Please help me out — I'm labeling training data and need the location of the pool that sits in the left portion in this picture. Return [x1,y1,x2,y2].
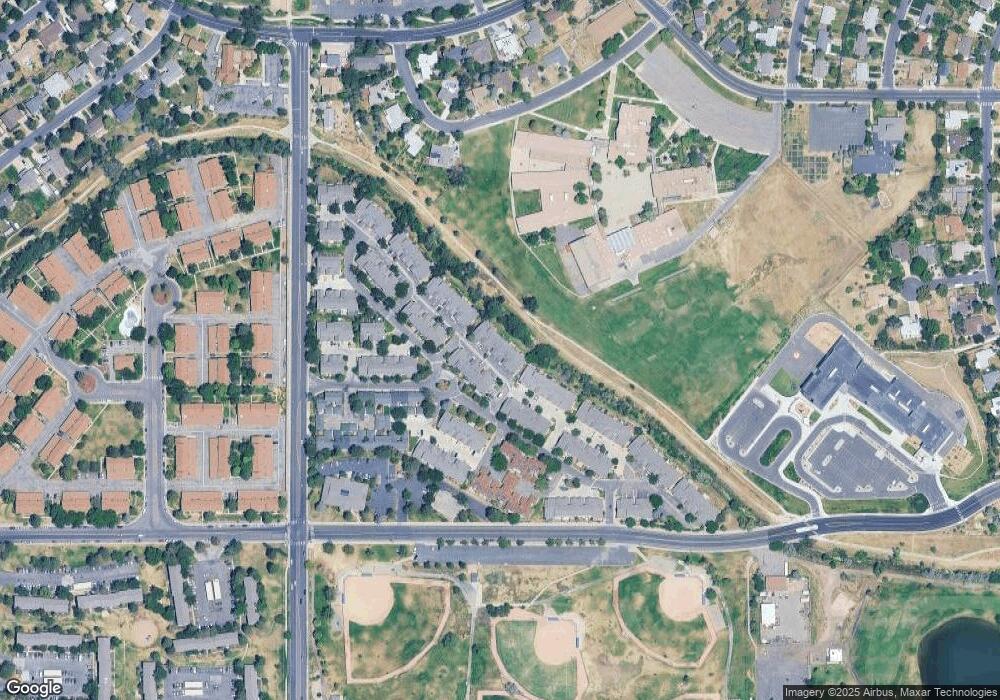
[121,307,140,338]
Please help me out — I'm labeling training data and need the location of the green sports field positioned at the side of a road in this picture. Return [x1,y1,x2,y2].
[446,128,782,438]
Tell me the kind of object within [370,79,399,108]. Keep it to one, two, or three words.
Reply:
house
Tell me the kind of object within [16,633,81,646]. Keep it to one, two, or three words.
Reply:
building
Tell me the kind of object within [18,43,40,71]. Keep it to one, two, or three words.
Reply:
house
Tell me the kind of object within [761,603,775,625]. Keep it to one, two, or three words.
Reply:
shed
